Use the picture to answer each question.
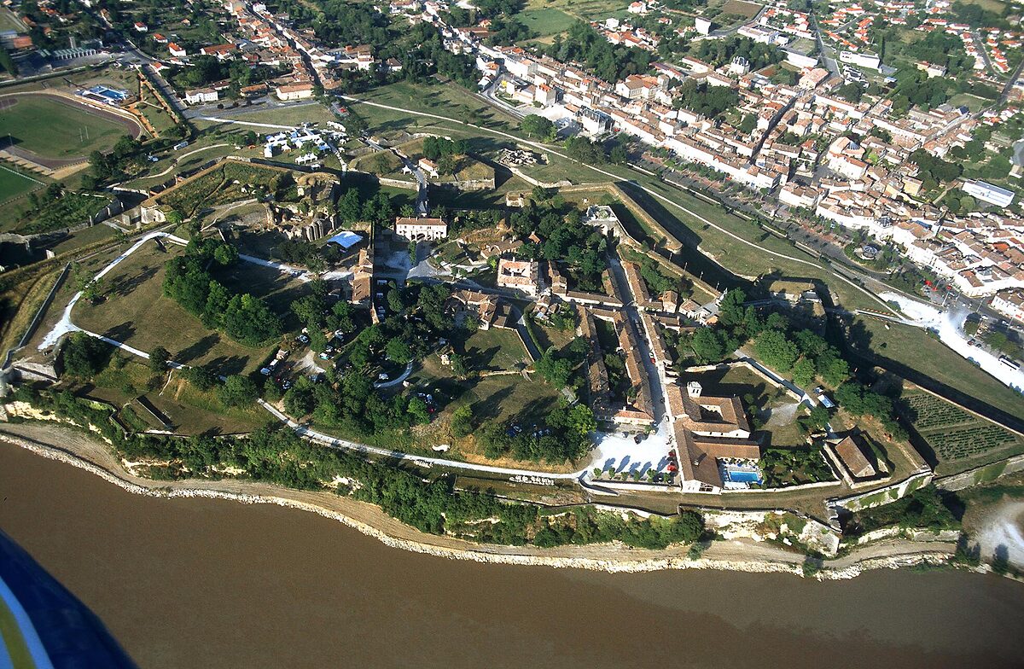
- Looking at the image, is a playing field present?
Yes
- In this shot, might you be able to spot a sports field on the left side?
Yes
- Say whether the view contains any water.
Yes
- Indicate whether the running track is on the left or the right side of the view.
left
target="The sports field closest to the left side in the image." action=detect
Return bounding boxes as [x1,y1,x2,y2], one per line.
[0,165,44,205]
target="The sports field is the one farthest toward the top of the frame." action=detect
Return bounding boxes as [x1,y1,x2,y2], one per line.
[0,98,128,157]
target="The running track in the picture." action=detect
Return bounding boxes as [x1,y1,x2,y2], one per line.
[0,92,139,168]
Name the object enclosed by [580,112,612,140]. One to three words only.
house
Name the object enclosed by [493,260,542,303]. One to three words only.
house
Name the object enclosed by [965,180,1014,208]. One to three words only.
building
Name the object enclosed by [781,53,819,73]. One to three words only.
building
